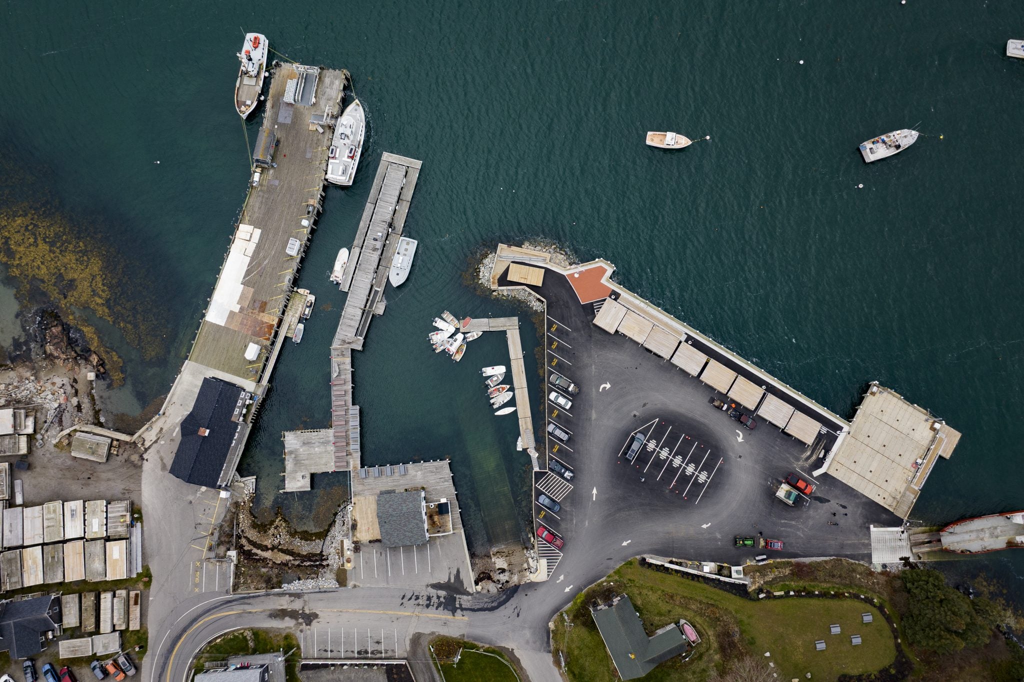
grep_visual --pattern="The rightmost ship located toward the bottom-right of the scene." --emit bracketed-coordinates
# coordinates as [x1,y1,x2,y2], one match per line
[934,509,1024,556]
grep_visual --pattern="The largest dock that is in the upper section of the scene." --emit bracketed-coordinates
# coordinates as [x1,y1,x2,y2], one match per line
[188,60,351,381]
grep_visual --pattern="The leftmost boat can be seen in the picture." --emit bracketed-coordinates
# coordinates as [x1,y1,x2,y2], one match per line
[230,25,267,118]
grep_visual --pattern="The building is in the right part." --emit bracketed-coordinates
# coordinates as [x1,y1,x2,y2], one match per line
[588,593,688,681]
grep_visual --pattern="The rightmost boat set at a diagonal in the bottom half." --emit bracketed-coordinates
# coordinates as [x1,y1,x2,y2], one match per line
[680,618,700,646]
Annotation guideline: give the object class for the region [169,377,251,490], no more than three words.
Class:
building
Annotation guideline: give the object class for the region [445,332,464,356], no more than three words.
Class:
boat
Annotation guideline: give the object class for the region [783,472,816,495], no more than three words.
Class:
vehicle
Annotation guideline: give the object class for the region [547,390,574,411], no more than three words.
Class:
car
